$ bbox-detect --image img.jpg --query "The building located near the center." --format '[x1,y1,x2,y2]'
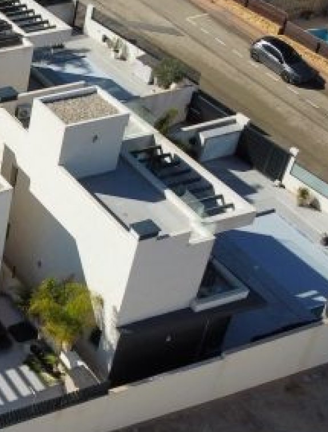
[0,72,260,382]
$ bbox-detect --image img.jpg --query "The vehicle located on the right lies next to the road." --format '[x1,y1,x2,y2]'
[252,34,317,78]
